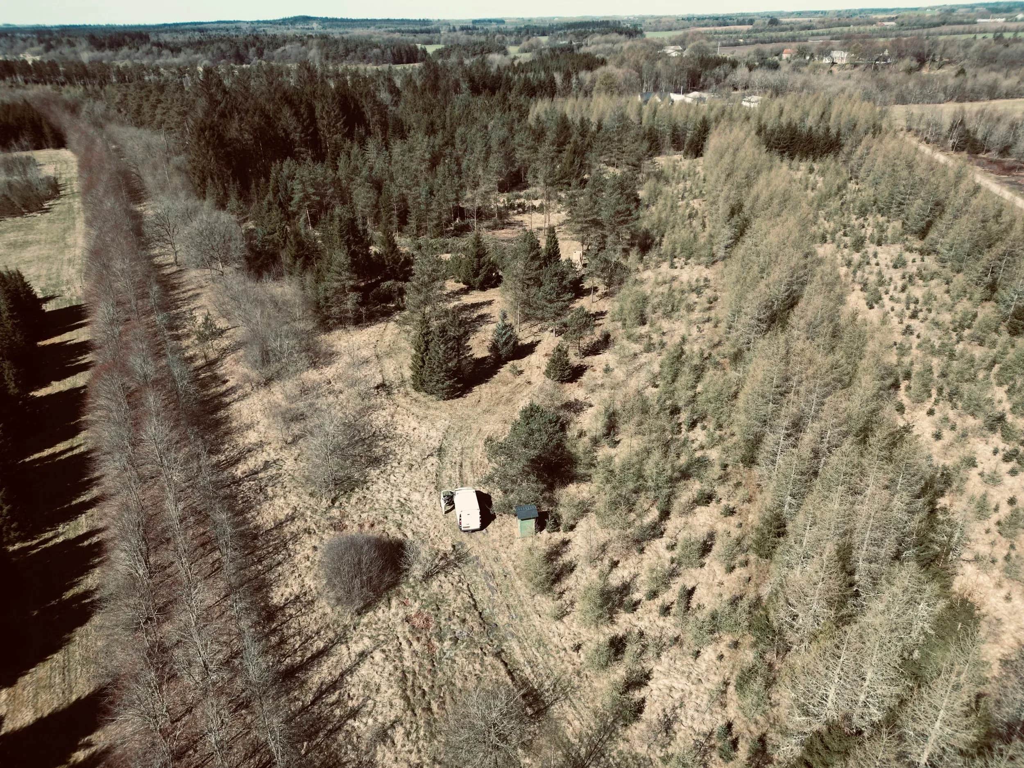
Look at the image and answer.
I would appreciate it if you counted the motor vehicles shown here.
1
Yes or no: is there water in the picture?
No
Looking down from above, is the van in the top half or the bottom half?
bottom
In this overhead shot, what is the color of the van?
white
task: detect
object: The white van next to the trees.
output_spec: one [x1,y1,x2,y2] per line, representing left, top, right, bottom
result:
[442,492,482,530]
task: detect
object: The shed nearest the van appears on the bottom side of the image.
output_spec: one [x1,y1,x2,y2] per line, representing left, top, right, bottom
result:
[514,505,537,536]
